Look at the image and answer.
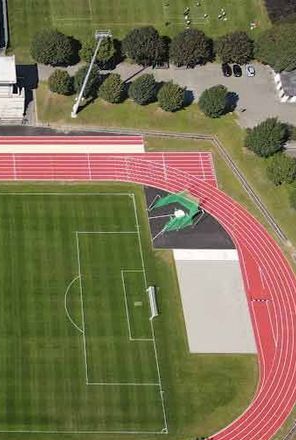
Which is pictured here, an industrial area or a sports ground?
sports ground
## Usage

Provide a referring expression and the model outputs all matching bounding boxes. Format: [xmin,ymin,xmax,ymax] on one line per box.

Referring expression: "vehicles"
[232,64,242,78]
[220,64,231,78]
[245,65,256,79]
